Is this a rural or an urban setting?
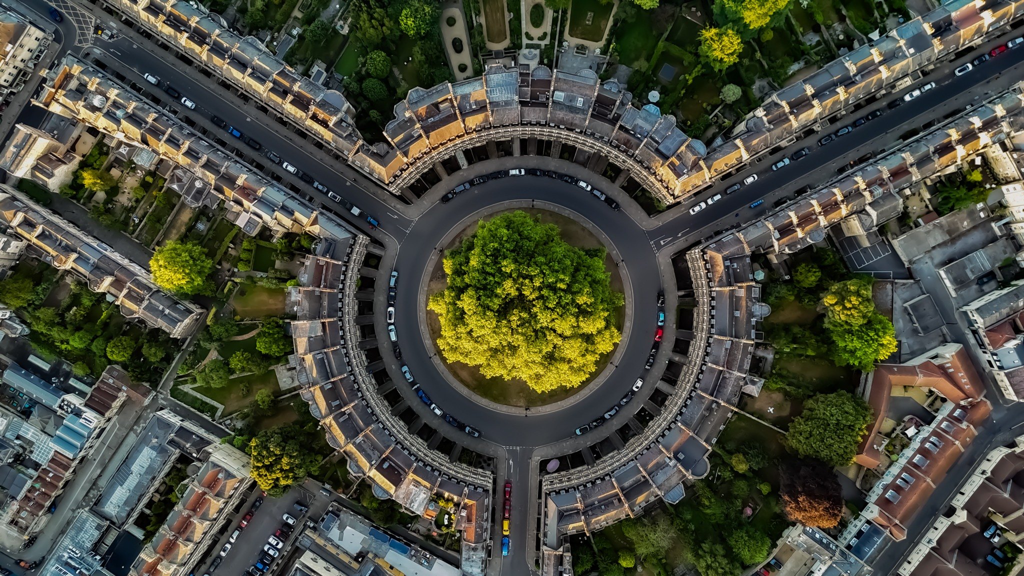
urban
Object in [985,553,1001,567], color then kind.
blue car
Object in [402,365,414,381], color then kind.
blue vehicle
